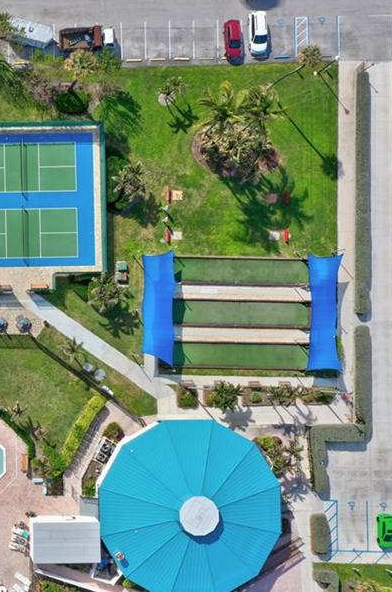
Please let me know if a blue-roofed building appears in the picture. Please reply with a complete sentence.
Yes, the photo shows a blue-roofed building.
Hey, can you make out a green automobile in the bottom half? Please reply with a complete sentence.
Yes, looking in the bottom half, one can make out a green automobile.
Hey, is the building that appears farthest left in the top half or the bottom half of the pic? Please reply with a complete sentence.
The bottom half of the photo is where the building that appears farthest left is.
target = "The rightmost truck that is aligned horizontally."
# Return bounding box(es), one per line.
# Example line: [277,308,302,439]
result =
[53,26,118,52]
